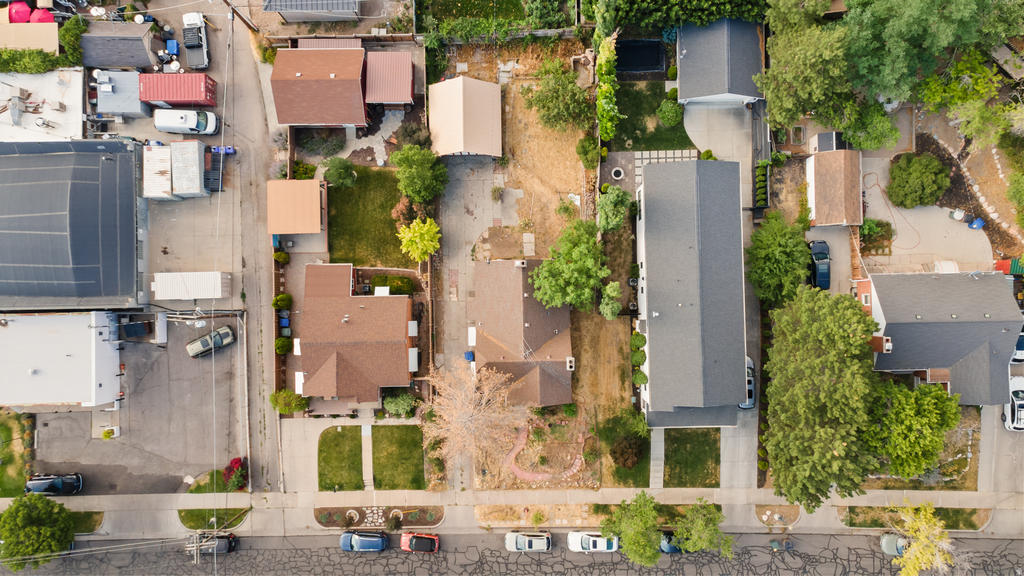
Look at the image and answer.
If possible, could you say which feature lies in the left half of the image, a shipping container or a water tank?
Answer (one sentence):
You can see a shipping container in the left half of the image.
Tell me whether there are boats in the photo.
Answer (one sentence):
No, the scene contains no boat.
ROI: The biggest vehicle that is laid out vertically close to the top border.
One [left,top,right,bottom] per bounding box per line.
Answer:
[183,13,212,72]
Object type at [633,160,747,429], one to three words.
house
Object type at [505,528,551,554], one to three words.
car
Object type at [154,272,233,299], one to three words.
shipping container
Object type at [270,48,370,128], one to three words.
building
